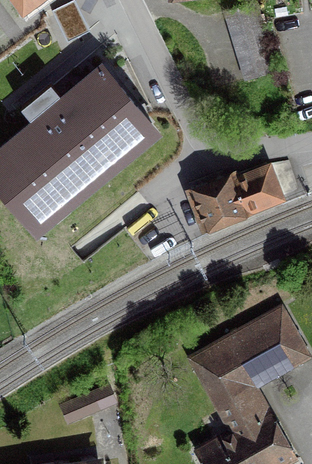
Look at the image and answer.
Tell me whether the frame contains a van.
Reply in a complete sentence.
Yes, a van is visible in the scene.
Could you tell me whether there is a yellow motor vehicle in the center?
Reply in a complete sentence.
Yes, there is a yellow motor vehicle in the center.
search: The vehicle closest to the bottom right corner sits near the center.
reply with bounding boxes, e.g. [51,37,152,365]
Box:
[149,235,178,259]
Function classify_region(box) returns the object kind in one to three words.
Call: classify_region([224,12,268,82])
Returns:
barn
